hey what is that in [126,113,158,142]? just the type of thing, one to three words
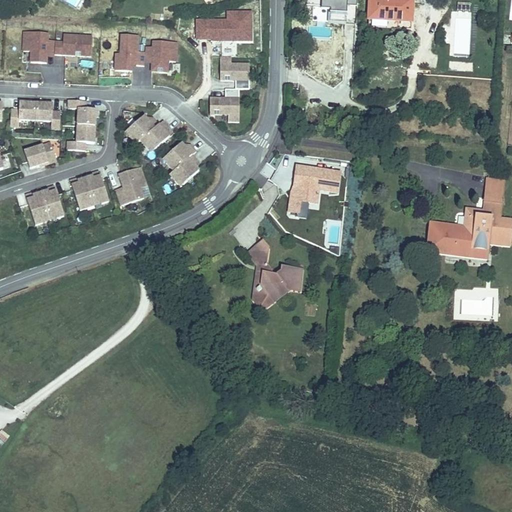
house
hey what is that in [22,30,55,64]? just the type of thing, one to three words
house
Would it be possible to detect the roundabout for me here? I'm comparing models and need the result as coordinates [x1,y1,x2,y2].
[212,130,276,203]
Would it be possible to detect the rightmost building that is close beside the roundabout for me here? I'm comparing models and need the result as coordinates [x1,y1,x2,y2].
[288,163,340,218]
